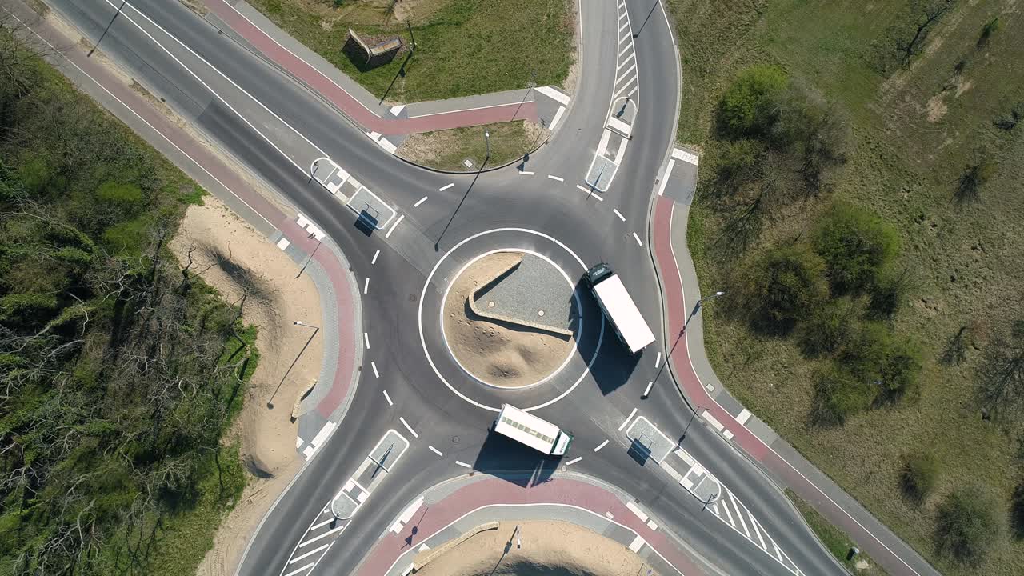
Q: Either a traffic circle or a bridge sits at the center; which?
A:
traffic circle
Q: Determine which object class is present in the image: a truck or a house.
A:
truck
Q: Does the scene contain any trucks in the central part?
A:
Yes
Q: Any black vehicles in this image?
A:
No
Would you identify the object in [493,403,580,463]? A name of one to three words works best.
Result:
truck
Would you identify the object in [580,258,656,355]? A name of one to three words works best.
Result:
truck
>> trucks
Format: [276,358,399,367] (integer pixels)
[493,403,580,463]
[580,258,656,355]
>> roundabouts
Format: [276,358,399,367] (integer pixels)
[371,181,652,462]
